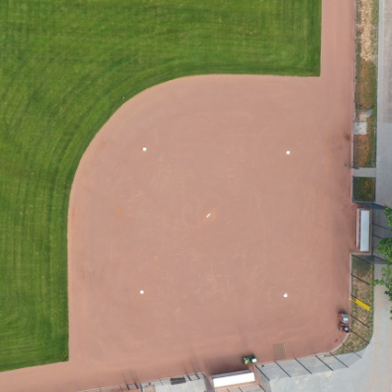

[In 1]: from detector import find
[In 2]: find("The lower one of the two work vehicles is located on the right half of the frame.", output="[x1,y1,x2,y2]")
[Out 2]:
[244,356,260,369]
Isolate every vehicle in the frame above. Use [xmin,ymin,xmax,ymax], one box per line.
[244,356,260,369]
[340,315,354,335]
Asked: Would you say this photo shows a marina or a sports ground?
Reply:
sports ground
